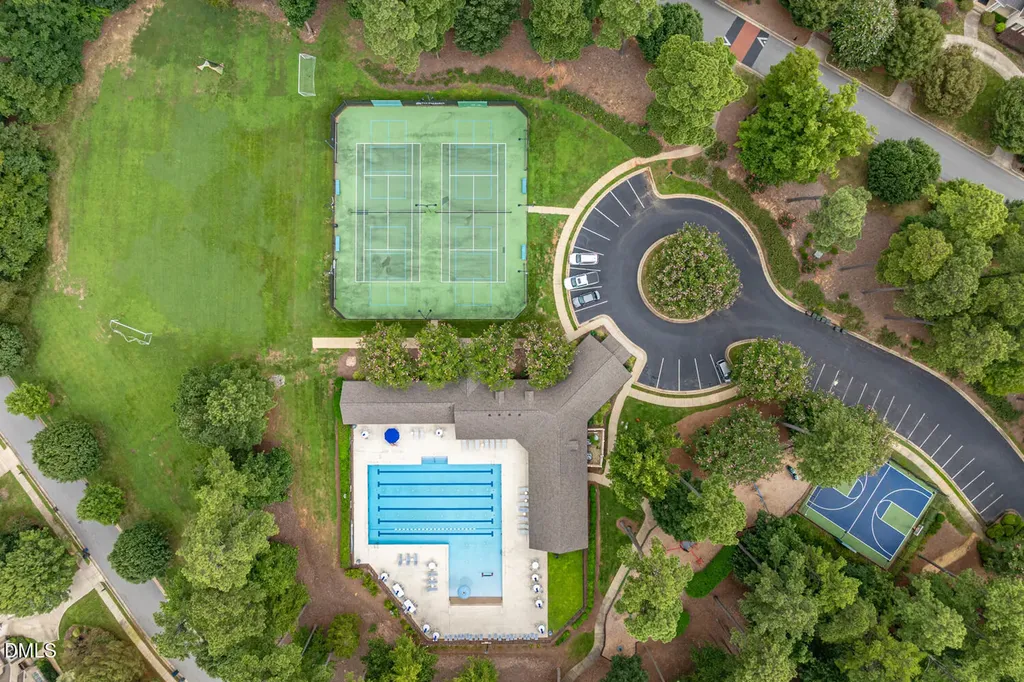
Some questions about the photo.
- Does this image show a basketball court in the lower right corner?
Yes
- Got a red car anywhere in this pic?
No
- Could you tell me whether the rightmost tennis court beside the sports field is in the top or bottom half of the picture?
top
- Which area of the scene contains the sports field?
left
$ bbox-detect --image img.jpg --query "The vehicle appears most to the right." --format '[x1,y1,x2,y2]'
[716,357,732,383]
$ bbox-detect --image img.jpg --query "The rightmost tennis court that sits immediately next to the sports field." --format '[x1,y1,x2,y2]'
[431,106,527,319]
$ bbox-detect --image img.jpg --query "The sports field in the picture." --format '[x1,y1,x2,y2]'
[22,0,337,579]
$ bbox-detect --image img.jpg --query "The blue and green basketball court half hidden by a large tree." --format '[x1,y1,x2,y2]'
[795,443,939,567]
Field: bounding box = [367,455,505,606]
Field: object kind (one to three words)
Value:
swimming pool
